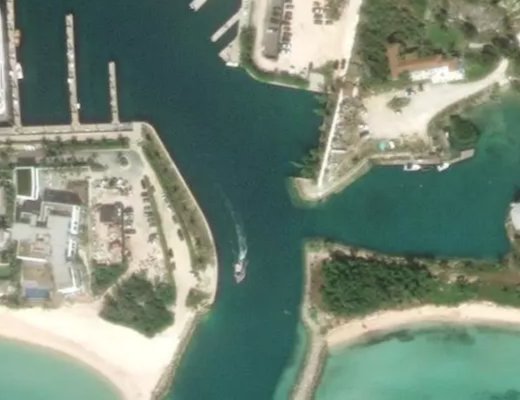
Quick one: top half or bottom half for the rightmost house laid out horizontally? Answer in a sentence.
You can find the rightmost house laid out horizontally in the top half.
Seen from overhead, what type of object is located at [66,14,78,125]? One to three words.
pier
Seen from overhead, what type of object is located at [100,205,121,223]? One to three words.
shed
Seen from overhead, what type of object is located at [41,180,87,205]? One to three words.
building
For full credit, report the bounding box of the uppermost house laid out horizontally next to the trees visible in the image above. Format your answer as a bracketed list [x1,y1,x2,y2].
[388,44,464,83]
